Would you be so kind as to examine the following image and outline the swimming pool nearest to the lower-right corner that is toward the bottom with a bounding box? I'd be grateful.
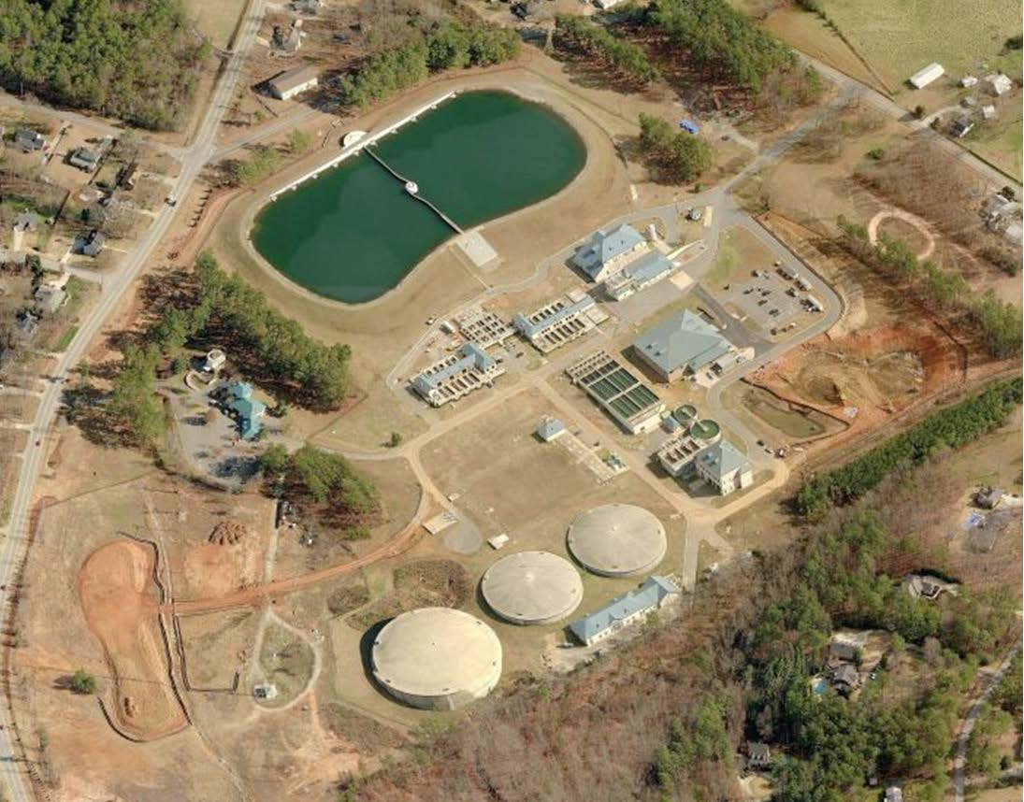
[810,676,828,699]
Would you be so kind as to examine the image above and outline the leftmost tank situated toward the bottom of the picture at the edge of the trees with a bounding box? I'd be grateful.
[372,606,501,713]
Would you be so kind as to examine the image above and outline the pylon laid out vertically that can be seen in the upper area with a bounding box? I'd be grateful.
[542,16,557,52]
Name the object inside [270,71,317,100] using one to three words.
shed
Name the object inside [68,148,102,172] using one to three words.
house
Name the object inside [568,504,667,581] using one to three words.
water tank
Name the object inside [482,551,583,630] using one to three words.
water tank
